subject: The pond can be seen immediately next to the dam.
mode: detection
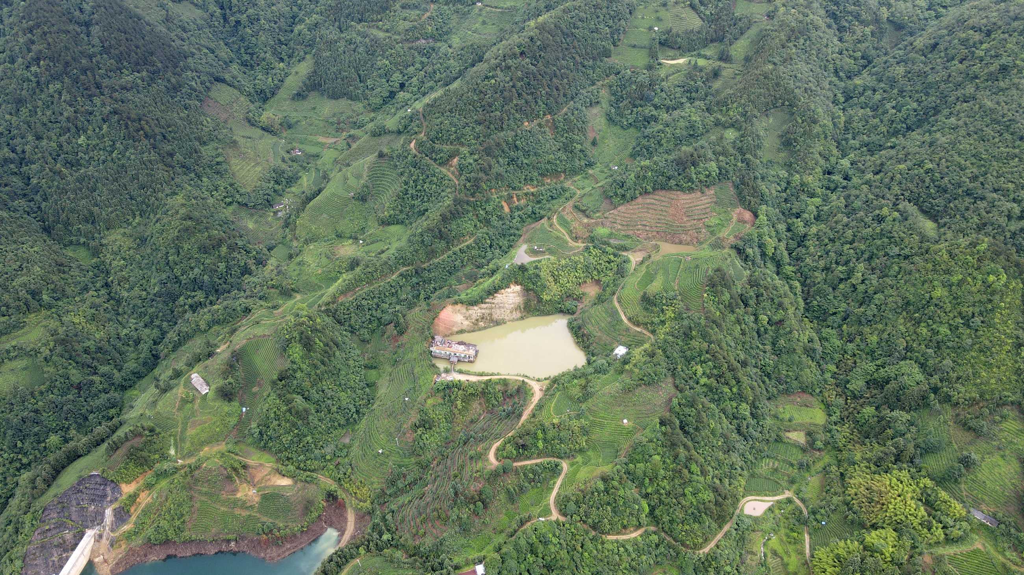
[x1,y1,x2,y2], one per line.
[87,528,339,575]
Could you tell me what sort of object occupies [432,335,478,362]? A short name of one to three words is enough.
house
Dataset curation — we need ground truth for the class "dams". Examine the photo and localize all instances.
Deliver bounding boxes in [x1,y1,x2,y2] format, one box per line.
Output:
[59,530,96,575]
